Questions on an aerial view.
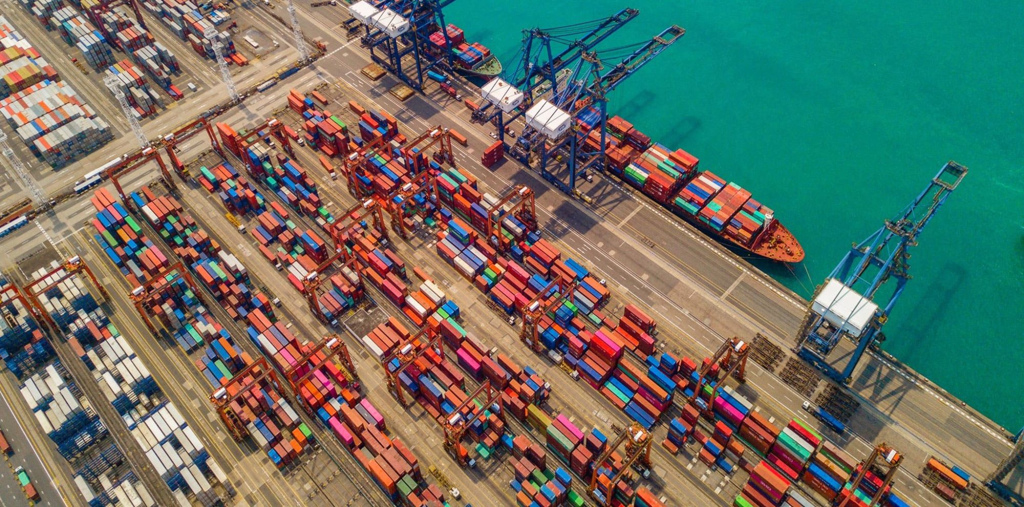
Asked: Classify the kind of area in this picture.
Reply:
port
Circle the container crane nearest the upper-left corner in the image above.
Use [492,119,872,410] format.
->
[87,0,147,44]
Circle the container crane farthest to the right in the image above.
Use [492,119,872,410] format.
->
[980,428,1024,504]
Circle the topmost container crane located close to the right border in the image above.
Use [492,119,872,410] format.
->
[789,156,974,386]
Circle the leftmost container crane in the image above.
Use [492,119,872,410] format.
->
[0,282,42,328]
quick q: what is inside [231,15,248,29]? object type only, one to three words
work vehicle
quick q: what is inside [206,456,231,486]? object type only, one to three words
shipping container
